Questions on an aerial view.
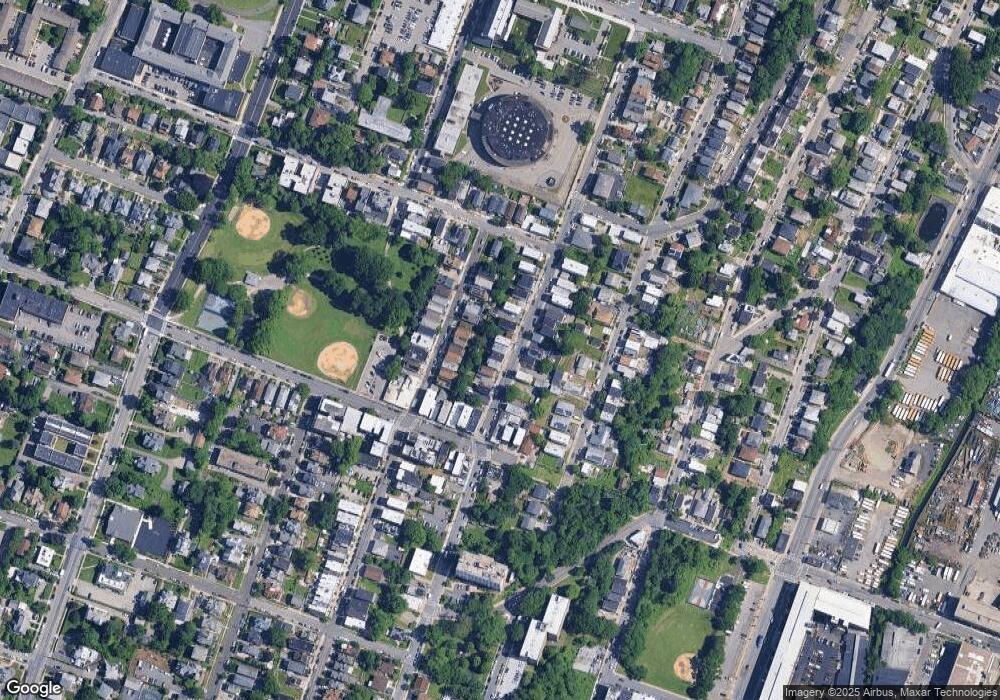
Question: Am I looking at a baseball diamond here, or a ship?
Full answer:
The one in the frame is a baseball diamond.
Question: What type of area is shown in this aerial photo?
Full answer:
This image shows a residential area.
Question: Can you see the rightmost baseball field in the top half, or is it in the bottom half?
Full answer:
The rightmost baseball field sits in the bottom half of the picture.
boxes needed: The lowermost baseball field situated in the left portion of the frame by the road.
[271,317,370,387]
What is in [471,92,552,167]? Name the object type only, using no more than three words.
building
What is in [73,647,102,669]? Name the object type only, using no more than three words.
house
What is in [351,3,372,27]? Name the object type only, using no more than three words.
house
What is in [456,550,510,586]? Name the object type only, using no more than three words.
building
